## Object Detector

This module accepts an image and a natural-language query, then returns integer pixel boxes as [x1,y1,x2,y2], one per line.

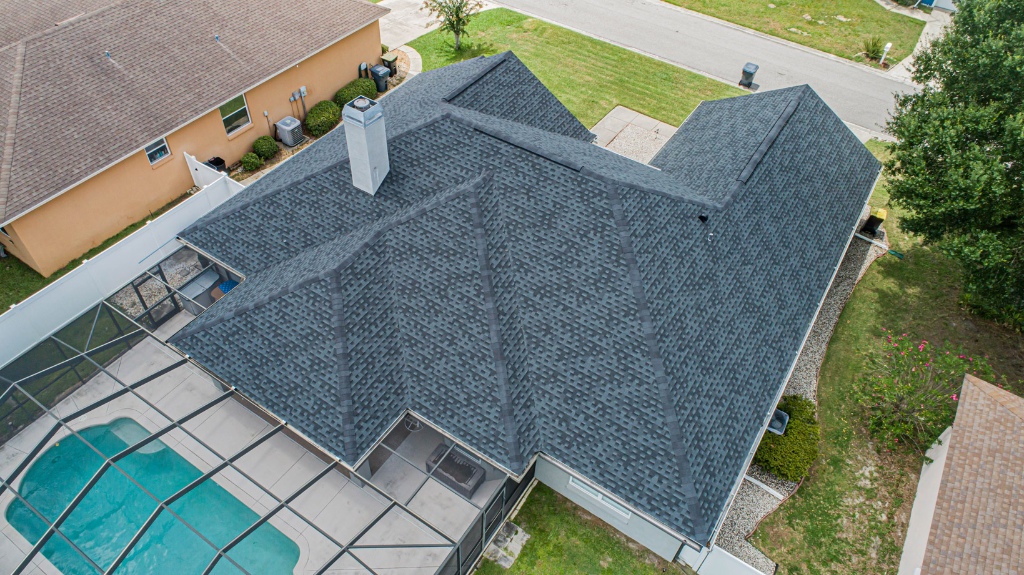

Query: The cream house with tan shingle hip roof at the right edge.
[897,373,1024,575]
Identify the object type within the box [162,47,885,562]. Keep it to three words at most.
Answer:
house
